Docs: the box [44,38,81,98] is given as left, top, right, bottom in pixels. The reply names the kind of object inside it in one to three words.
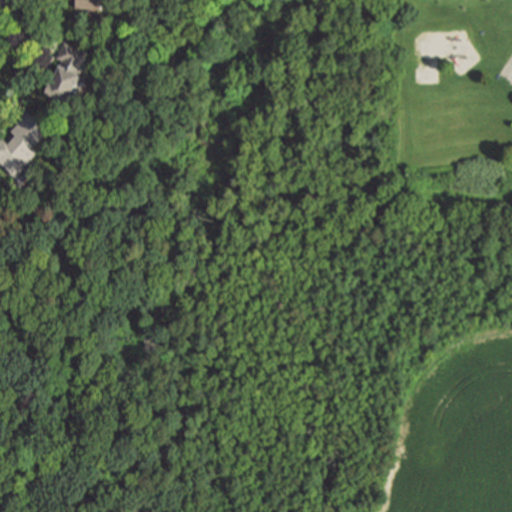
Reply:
house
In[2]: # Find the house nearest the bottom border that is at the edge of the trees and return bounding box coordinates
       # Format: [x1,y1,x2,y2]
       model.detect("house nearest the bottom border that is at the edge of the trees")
[0,122,42,180]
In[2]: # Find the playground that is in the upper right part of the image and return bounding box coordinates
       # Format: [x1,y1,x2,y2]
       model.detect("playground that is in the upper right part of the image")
[415,29,481,84]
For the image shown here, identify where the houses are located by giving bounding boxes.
[74,0,103,14]
[0,122,42,180]
[44,38,81,98]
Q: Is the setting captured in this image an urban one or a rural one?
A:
rural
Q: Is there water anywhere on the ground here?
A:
No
